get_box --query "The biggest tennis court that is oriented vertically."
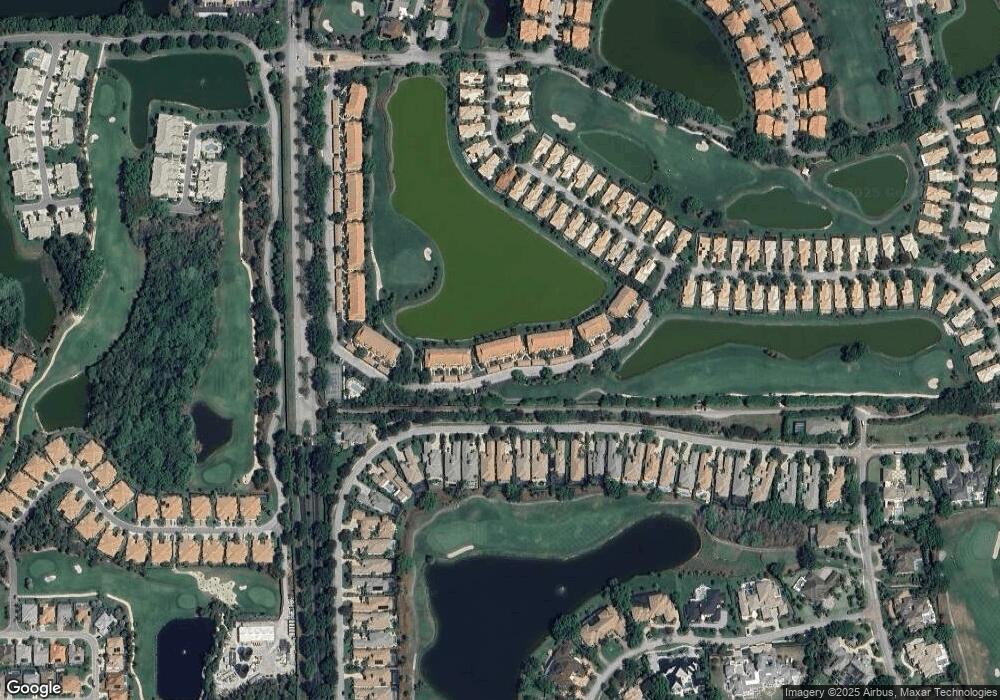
[325,363,342,398]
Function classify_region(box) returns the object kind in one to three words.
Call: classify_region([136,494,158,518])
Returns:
house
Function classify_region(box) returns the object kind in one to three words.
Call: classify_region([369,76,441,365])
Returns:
golf course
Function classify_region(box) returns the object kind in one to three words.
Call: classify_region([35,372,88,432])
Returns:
pond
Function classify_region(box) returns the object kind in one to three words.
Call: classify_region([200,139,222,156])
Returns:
swimming pool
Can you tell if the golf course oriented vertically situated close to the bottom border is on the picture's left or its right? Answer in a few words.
right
